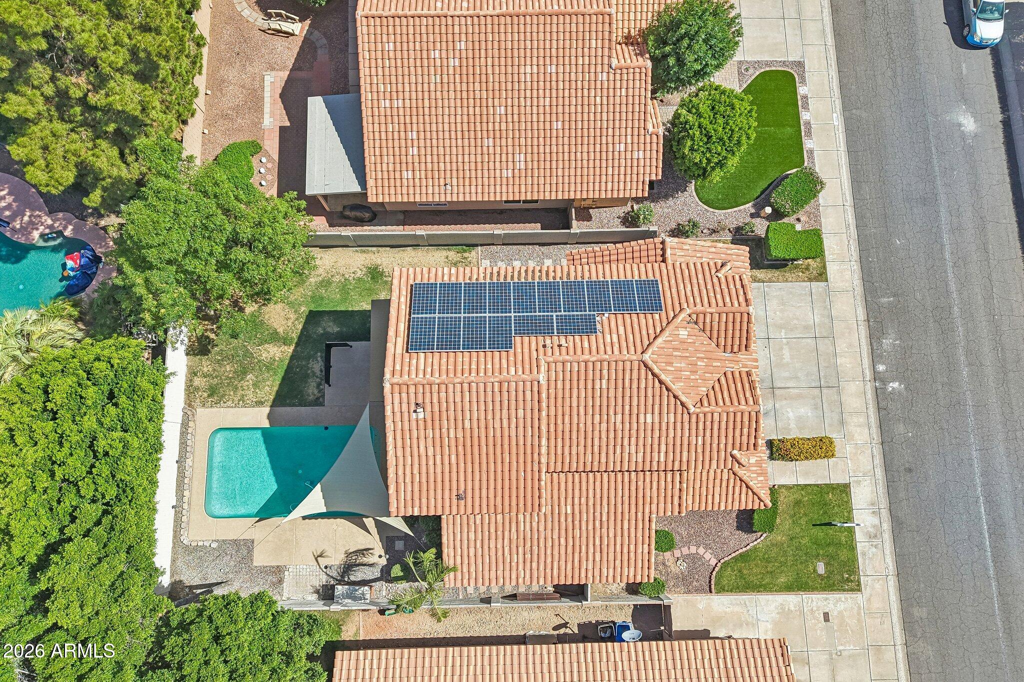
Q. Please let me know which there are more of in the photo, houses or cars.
houses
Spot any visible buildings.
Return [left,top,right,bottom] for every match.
[371,236,774,587]
[330,636,797,682]
[305,0,687,211]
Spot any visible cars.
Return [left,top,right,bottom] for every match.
[956,0,1004,48]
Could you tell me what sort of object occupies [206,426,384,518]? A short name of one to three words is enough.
swimming pool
